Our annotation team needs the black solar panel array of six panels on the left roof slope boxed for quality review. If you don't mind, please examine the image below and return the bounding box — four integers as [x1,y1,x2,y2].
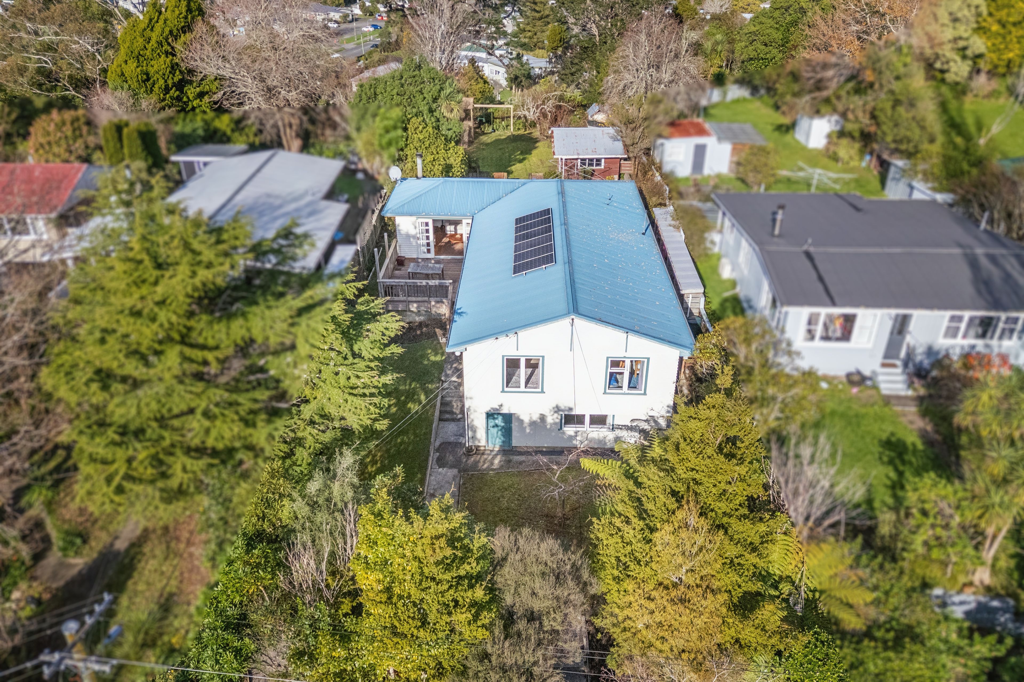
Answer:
[511,207,552,277]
